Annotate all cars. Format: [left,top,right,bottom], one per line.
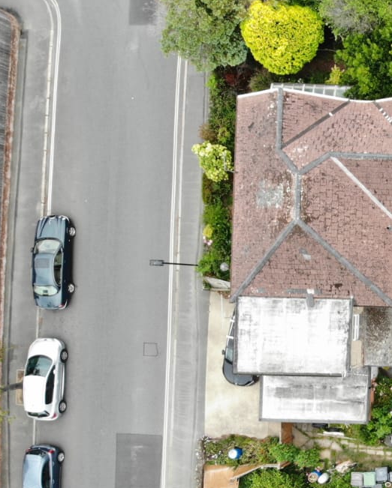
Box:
[28,215,80,311]
[219,304,264,388]
[21,336,72,421]
[23,442,69,488]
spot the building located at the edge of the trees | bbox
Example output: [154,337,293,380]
[230,81,392,423]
